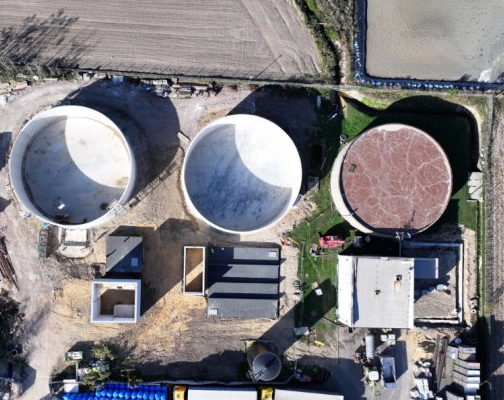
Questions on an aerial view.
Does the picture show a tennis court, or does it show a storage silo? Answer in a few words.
storage silo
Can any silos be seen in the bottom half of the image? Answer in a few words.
Yes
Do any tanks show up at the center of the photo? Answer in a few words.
Yes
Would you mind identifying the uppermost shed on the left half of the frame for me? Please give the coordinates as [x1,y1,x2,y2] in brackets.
[106,236,142,271]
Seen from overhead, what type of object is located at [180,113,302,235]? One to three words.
storage tank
